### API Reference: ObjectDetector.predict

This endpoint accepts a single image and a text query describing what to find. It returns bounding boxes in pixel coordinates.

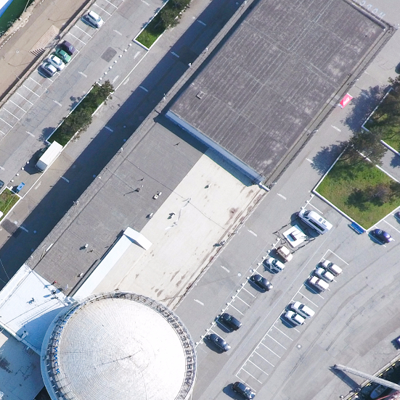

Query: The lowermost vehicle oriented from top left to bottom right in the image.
[232,382,255,400]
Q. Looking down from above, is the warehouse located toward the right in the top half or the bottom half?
top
